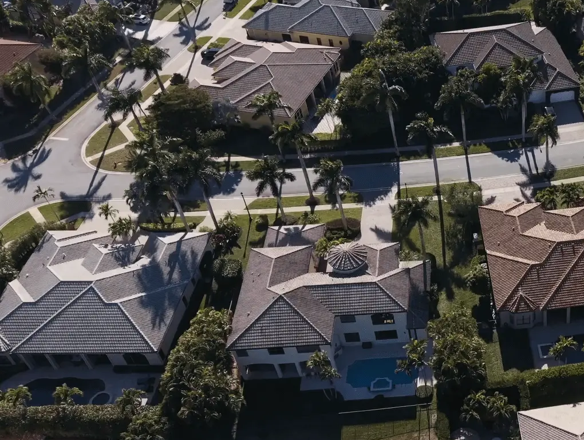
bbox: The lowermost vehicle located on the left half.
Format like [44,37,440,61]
[199,44,225,60]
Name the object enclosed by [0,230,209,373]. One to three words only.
house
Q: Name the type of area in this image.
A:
residential area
